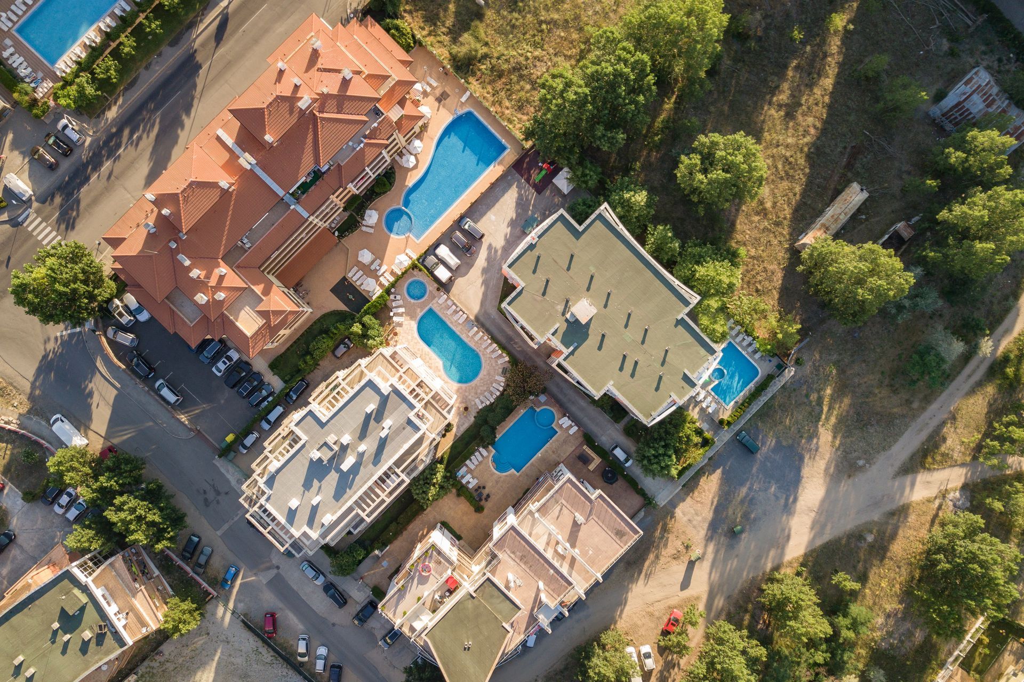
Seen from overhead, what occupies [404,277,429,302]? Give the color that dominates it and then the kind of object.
blue swimming pool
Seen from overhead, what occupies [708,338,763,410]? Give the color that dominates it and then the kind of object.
blue swimming pool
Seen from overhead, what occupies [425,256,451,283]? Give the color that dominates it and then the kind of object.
white car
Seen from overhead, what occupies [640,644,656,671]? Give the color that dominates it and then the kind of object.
white car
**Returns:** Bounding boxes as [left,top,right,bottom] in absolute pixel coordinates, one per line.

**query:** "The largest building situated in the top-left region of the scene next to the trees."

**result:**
[101,12,434,359]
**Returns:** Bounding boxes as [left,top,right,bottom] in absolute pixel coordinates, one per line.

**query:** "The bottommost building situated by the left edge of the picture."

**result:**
[0,540,187,682]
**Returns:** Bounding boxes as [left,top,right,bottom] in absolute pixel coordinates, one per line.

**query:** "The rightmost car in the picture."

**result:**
[734,430,762,456]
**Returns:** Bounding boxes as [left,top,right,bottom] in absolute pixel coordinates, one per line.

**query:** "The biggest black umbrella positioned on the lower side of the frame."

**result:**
[601,466,619,485]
